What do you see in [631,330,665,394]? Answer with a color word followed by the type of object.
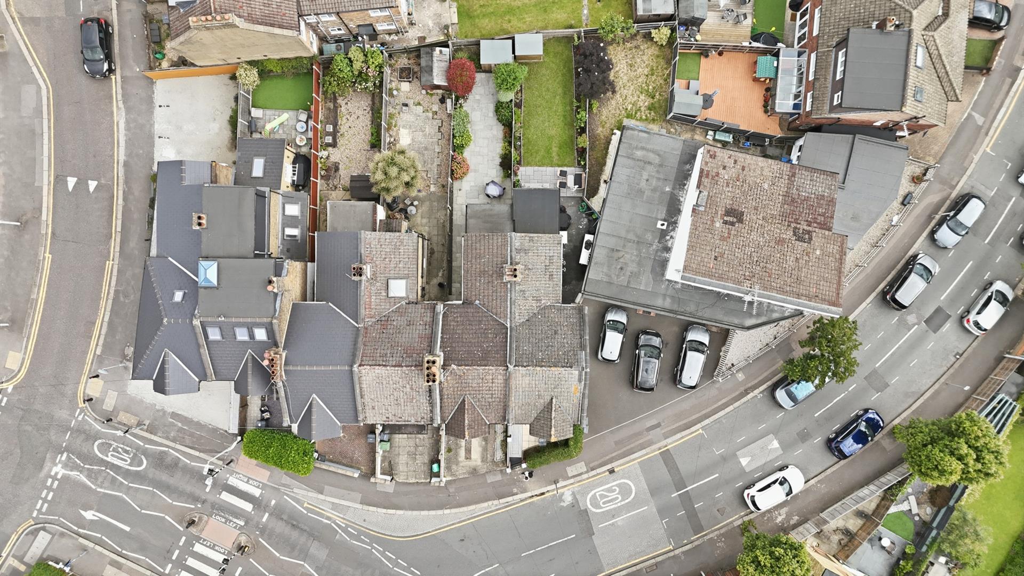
gray car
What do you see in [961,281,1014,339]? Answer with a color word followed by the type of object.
white car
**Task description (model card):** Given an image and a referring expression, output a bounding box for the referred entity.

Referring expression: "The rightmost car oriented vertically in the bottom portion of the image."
[675,324,712,392]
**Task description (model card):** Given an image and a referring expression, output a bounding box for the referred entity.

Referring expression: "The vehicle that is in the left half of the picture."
[80,17,115,80]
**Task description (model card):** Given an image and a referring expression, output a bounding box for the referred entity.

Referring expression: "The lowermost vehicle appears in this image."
[743,465,804,513]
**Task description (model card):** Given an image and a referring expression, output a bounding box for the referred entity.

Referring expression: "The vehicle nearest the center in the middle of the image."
[597,307,628,365]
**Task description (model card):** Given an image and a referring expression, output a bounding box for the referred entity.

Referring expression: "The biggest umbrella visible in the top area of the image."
[700,86,724,111]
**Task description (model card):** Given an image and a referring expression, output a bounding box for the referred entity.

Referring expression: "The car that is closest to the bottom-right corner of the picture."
[825,407,886,462]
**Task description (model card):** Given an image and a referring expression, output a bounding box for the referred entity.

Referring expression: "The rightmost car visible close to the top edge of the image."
[968,0,1013,30]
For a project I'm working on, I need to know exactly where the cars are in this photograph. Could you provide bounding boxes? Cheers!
[80,17,115,80]
[675,324,712,392]
[631,330,665,394]
[961,281,1014,339]
[597,307,628,365]
[968,0,1013,30]
[743,465,804,513]
[932,190,986,248]
[772,359,830,409]
[882,254,938,312]
[825,407,886,462]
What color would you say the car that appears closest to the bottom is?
white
